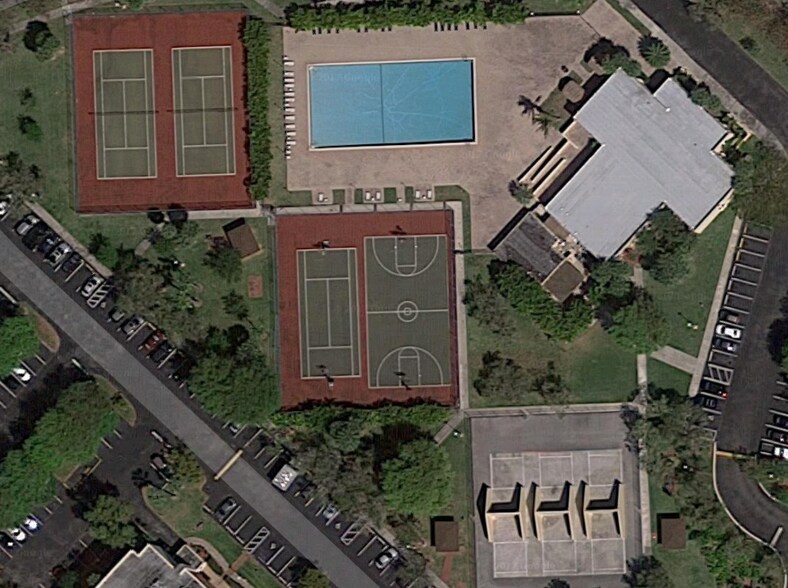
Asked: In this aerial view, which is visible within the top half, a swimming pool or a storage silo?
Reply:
swimming pool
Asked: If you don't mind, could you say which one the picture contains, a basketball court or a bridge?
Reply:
basketball court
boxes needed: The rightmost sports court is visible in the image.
[583,449,625,575]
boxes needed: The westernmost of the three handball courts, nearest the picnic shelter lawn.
[486,453,527,577]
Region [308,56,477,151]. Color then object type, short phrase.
blue swimming pool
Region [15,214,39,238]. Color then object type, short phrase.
gray car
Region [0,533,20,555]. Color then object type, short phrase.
black car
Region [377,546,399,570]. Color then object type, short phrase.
gray car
